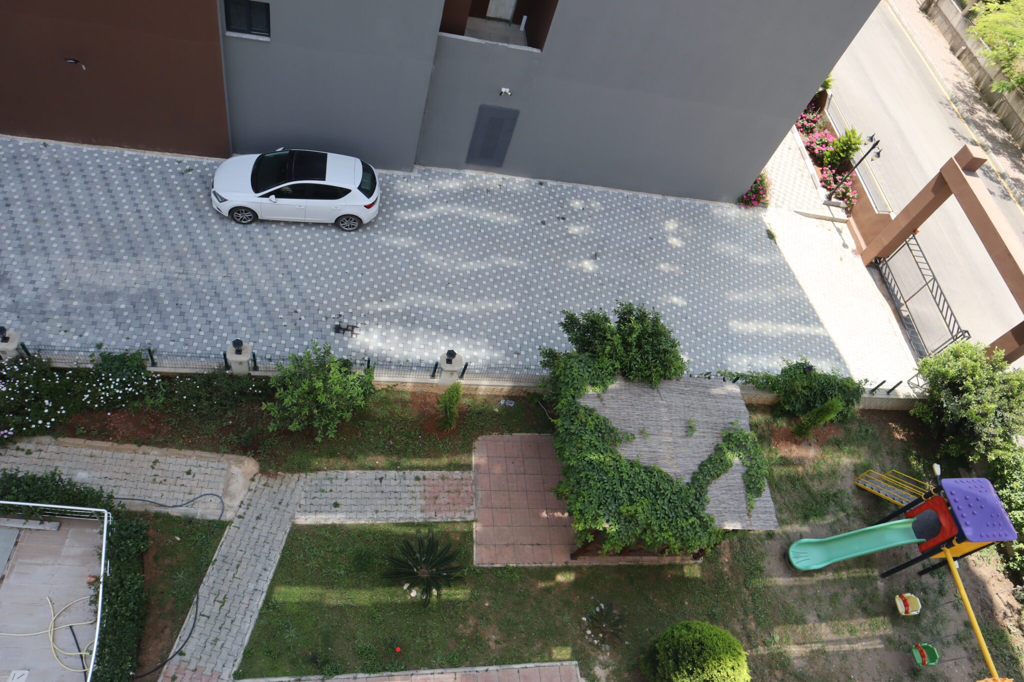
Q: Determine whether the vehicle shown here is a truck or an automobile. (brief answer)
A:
automobile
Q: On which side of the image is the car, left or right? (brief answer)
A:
left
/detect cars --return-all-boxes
[211,145,381,232]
